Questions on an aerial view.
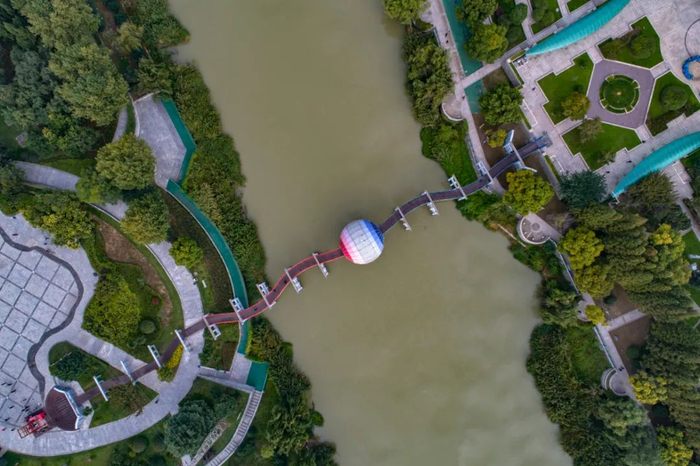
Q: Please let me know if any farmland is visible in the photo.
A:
No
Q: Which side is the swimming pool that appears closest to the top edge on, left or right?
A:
right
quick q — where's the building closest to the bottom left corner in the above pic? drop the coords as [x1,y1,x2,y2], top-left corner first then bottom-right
[44,387,81,432]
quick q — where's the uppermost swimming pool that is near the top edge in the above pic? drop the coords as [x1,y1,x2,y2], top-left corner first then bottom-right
[443,0,484,76]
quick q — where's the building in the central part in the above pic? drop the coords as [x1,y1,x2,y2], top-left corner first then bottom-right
[340,220,384,264]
